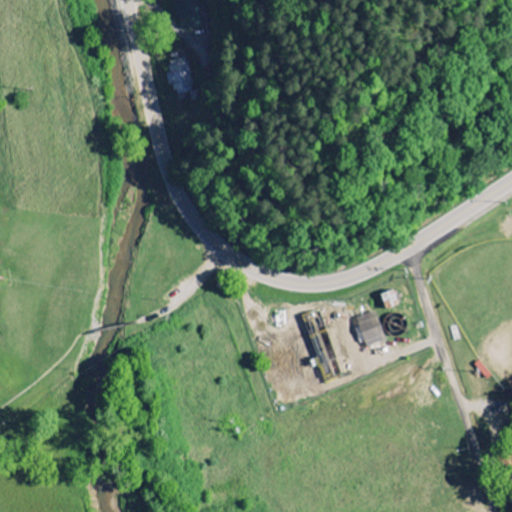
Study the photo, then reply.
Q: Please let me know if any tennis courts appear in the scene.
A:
No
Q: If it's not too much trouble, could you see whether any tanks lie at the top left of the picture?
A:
No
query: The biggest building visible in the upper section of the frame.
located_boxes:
[166,58,194,94]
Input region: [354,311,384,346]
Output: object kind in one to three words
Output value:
shed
